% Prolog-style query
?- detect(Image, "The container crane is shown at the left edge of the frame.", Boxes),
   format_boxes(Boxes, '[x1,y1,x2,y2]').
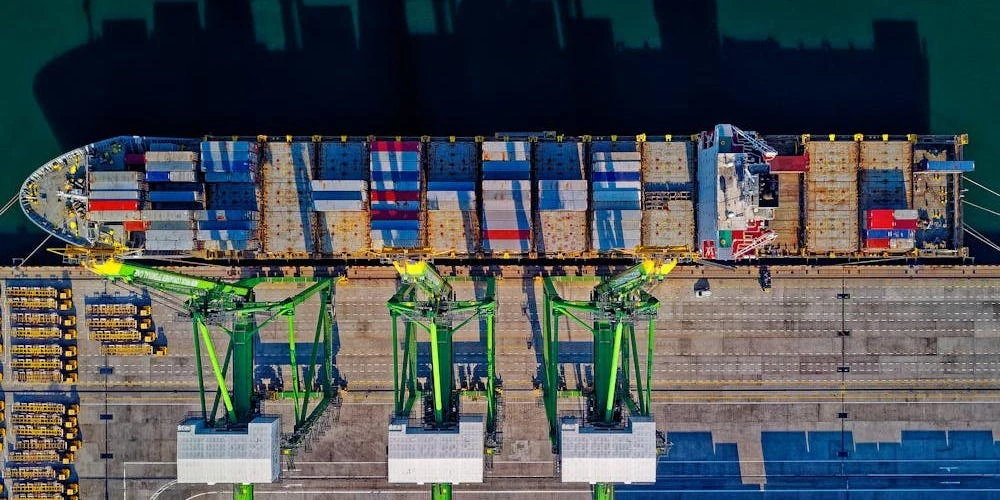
[43,242,350,500]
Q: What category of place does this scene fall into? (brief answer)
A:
port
